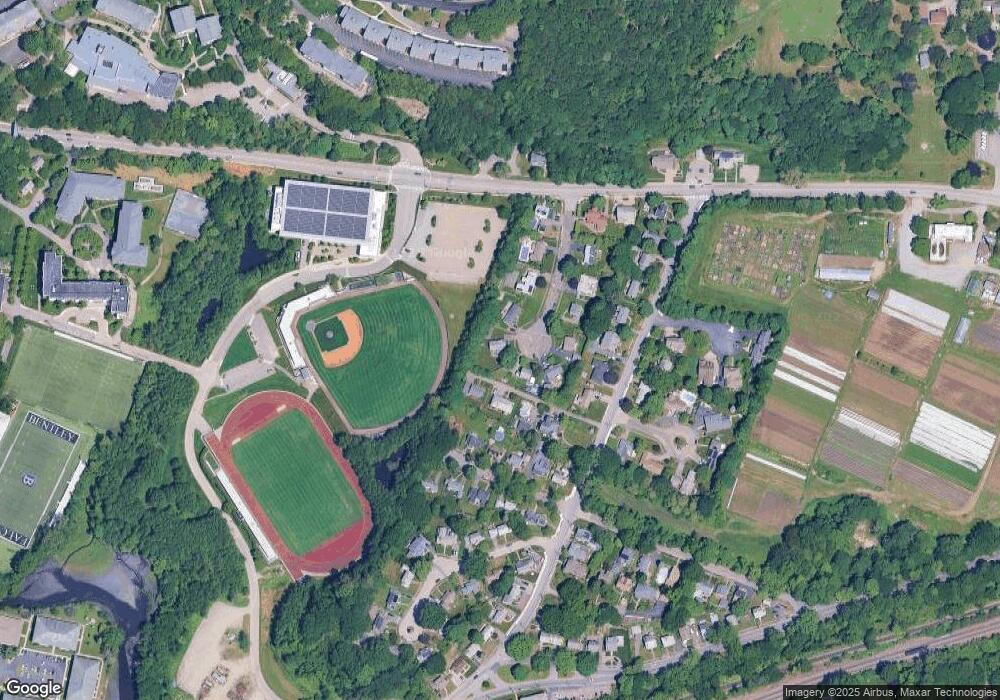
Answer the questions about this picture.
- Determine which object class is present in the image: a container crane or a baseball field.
baseball field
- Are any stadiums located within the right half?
No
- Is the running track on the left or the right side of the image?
left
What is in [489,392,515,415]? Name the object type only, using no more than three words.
house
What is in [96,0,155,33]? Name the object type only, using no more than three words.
building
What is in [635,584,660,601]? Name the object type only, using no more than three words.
house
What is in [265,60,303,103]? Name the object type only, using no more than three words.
building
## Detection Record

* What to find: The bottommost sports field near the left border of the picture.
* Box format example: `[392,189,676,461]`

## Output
[0,398,96,552]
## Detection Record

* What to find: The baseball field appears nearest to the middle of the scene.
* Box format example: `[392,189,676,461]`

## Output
[292,278,449,435]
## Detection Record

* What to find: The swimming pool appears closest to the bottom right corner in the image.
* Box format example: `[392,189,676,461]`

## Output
[680,388,697,406]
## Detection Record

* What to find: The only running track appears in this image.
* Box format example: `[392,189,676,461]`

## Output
[204,390,372,582]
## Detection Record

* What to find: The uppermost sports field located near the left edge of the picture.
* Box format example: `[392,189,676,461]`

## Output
[5,326,145,435]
